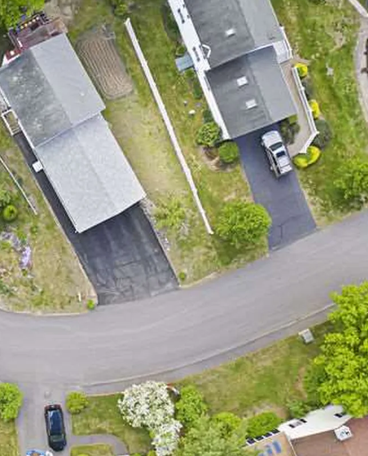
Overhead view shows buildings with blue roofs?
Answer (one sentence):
No, I find no building with a blue roof anywhere in the image.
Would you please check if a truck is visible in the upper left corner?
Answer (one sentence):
No, no truck can be made out in the upper left corner.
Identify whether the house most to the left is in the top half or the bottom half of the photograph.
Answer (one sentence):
The top half of the photo is where the house most to the left is.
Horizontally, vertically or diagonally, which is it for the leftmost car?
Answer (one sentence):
The leftmost car is laid out vertically.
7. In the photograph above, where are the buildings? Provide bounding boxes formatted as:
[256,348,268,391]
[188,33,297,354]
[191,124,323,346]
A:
[164,0,300,140]
[0,16,147,233]
[236,405,368,456]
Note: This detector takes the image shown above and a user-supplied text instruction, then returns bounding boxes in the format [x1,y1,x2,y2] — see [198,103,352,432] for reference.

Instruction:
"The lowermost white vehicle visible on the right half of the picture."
[258,126,297,181]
